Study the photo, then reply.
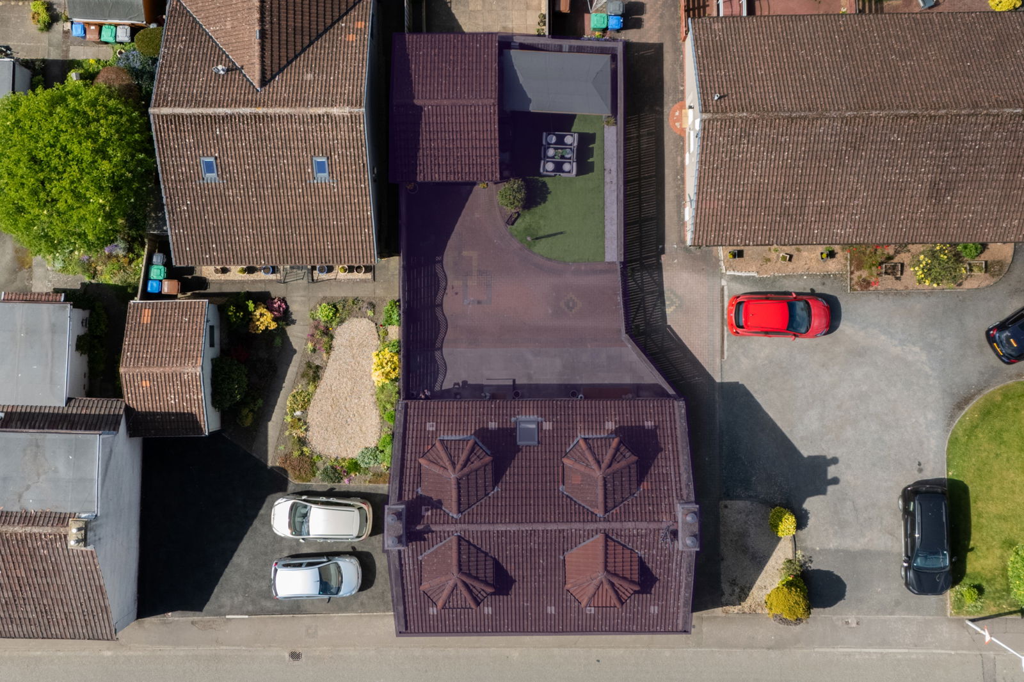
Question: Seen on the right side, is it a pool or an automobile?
automobile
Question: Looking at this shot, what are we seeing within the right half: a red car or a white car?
red car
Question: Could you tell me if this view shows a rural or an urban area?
urban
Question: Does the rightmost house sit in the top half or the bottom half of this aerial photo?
top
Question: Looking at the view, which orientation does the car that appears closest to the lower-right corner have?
from top to bottom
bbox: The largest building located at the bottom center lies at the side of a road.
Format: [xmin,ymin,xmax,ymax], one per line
[384,396,699,638]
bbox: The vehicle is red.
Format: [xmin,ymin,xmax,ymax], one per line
[730,288,834,341]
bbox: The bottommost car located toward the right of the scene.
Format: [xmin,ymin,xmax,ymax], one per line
[902,484,961,598]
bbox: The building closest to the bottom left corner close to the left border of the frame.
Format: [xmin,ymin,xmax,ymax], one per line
[0,396,141,643]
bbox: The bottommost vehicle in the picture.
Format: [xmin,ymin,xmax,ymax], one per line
[268,554,362,607]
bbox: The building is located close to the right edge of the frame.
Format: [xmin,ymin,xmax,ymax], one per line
[685,10,1024,249]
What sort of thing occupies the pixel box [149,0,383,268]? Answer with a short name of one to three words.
house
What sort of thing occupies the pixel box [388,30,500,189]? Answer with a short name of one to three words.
building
